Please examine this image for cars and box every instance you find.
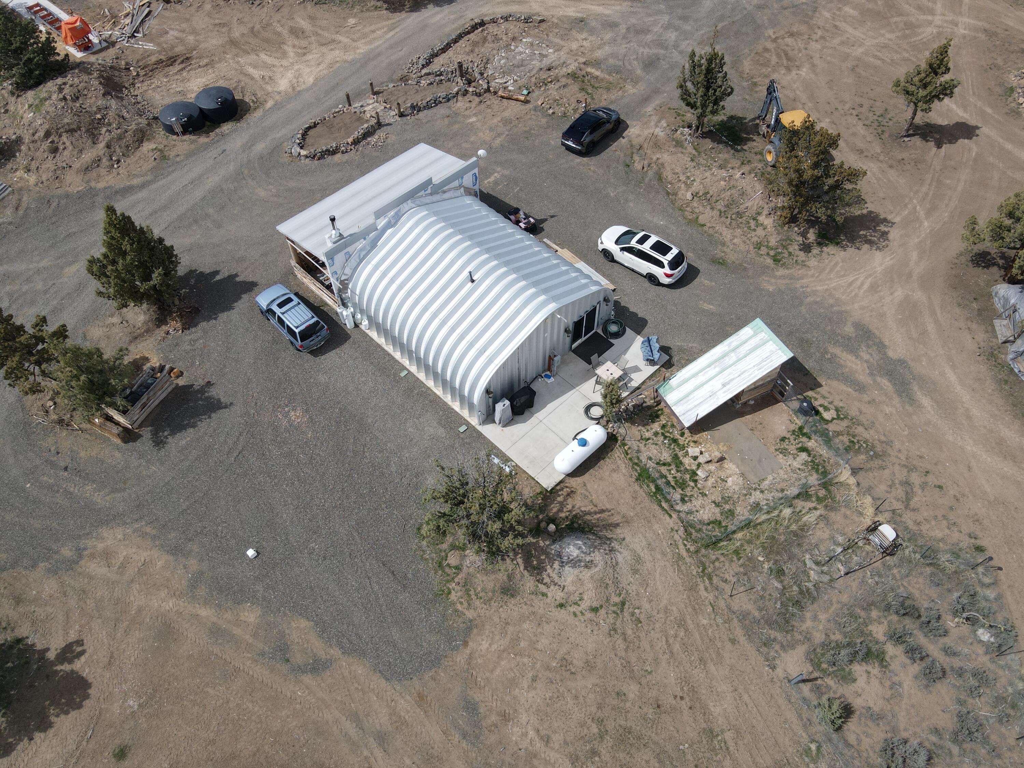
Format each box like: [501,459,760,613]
[257,284,337,357]
[597,226,690,289]
[560,107,621,155]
